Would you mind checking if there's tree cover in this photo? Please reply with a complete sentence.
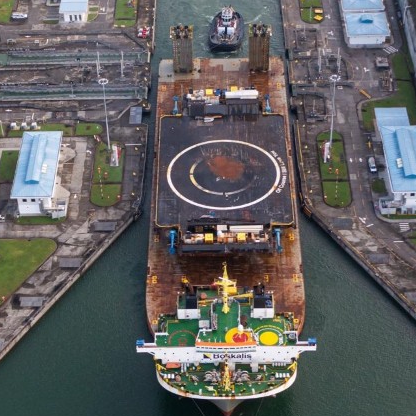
No, there is no tree cover in the image.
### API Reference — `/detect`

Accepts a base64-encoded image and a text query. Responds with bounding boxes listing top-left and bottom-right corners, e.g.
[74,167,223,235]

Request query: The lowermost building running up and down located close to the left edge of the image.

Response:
[10,123,62,212]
